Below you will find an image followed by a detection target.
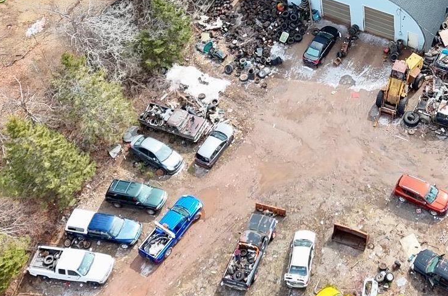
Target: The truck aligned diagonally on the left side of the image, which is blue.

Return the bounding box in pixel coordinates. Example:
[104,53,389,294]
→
[140,195,209,265]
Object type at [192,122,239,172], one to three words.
car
